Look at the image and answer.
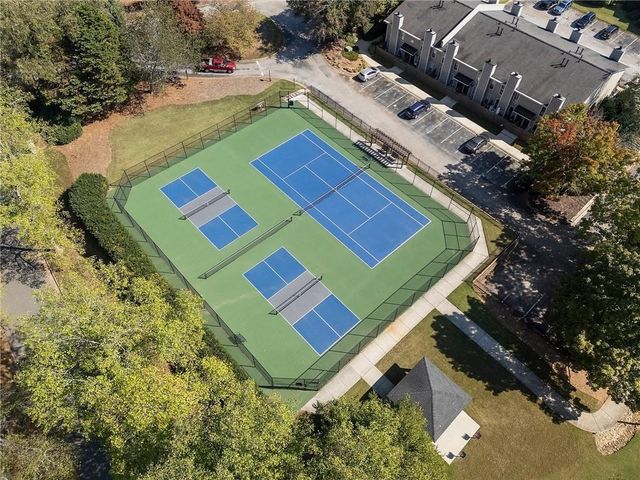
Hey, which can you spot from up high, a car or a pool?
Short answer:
car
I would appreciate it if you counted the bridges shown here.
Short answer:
none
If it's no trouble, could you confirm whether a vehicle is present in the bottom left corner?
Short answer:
No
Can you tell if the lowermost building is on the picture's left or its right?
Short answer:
right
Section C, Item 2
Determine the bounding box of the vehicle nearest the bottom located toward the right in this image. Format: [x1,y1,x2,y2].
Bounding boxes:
[461,136,488,157]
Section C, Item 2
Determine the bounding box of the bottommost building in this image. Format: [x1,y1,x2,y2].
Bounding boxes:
[385,356,481,464]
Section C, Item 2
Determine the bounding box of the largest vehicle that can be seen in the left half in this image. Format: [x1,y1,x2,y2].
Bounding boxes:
[202,56,239,72]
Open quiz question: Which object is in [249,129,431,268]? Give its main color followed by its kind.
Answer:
blue tennis court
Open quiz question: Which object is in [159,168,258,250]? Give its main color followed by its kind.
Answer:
blue sports court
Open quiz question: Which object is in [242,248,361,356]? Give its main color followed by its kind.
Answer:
blue sports court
